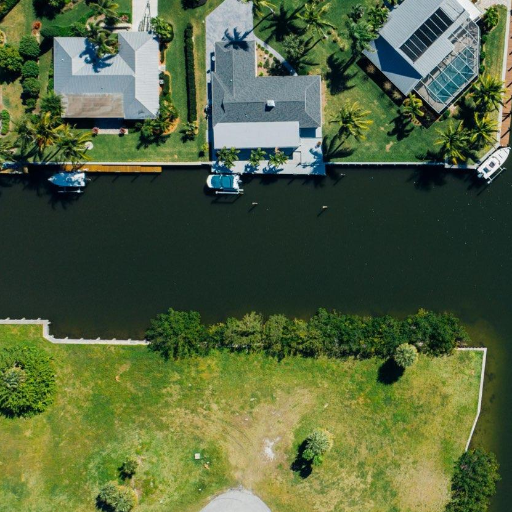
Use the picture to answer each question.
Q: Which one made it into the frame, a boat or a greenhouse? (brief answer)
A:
boat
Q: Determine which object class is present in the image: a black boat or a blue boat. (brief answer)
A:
blue boat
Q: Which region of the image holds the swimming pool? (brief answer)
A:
top right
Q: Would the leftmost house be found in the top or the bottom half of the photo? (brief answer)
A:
top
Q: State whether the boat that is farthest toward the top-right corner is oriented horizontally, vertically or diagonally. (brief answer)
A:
diagonally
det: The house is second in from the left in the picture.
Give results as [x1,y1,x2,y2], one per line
[212,40,322,148]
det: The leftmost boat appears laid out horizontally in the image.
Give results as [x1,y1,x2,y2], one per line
[45,172,90,185]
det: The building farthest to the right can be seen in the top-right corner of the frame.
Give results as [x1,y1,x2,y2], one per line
[363,0,482,96]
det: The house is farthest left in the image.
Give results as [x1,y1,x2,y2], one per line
[53,31,162,119]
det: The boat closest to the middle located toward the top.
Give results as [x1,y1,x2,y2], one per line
[205,173,242,190]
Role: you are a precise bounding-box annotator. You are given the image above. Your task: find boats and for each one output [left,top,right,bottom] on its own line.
[205,173,242,190]
[477,146,511,179]
[45,172,90,185]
